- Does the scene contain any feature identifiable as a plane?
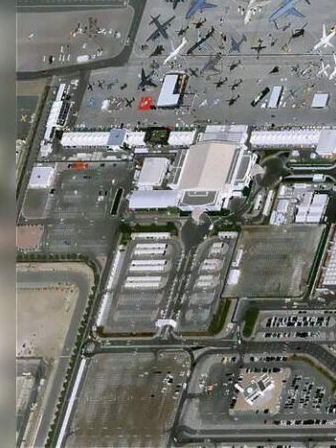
Yes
